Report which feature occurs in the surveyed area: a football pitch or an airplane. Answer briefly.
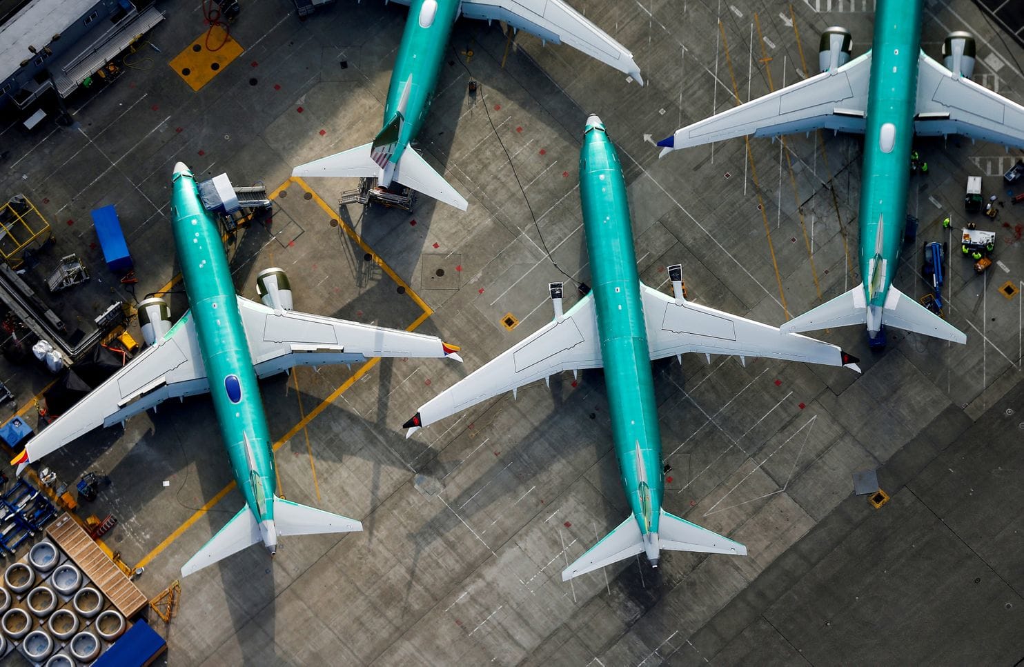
airplane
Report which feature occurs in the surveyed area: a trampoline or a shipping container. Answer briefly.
shipping container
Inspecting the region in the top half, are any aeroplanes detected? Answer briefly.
Yes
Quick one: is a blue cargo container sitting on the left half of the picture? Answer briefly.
Yes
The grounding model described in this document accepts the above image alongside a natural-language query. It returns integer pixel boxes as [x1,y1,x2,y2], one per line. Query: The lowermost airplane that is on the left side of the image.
[14,163,463,575]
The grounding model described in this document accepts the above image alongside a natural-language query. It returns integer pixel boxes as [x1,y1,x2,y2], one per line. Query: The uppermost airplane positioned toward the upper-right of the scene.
[657,0,1024,341]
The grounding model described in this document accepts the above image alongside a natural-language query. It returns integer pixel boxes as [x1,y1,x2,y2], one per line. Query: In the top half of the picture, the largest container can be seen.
[90,204,134,272]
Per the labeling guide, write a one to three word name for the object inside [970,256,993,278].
work vehicle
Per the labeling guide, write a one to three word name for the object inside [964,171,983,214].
vehicle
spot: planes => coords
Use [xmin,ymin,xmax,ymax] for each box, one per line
[657,0,1024,341]
[14,163,463,575]
[292,0,641,207]
[402,114,860,578]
